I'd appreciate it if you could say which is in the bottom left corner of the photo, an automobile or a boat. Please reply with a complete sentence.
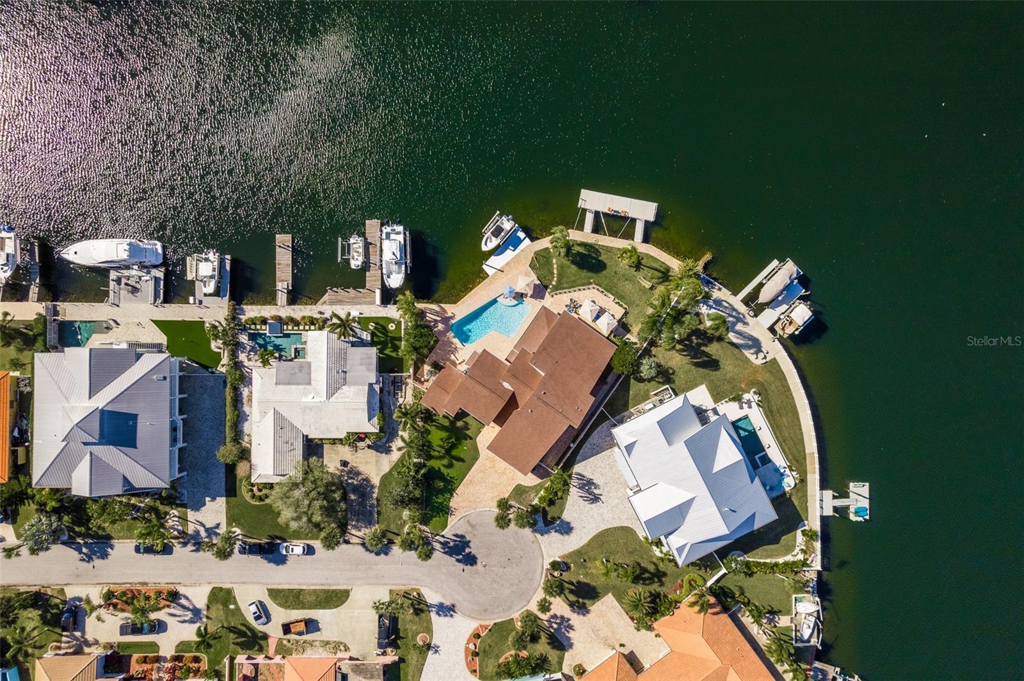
There is an automobile in the bottom left corner of the photo.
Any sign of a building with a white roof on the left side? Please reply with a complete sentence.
Yes, on the left side there is a building with a white roof.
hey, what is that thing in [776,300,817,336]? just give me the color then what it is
white boat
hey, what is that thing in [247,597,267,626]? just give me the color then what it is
white car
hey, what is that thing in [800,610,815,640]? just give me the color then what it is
white boat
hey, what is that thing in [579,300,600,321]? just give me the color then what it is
white umbrella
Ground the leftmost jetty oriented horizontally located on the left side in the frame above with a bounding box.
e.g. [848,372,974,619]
[102,267,178,303]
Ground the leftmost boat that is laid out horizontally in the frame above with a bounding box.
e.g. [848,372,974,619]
[53,239,167,267]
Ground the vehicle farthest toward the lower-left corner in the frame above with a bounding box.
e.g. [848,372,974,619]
[60,604,78,635]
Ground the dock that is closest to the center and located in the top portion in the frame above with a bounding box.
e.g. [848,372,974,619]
[483,224,532,275]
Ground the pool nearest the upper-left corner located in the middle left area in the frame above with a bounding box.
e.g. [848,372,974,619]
[57,319,114,349]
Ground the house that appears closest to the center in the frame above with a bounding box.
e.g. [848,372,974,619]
[421,306,618,476]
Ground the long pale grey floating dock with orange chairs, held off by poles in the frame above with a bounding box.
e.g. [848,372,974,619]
[578,189,658,222]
